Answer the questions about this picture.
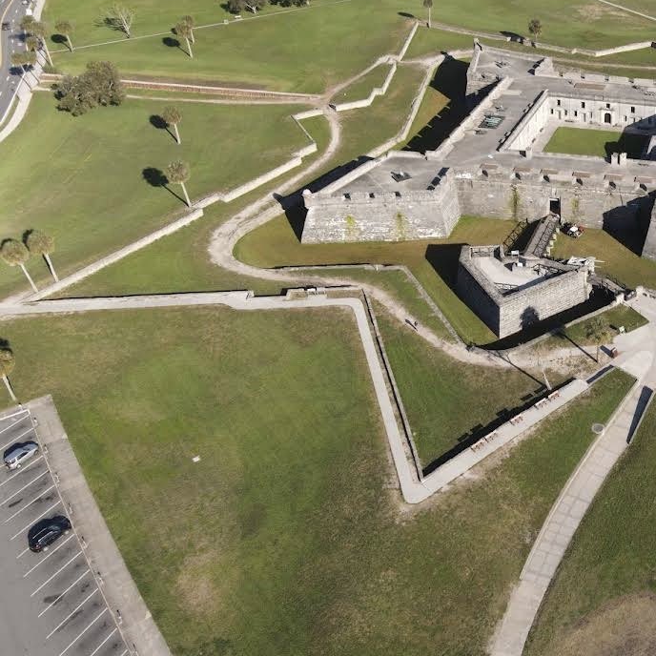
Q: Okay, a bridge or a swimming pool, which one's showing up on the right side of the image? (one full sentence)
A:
There is a bridge on the right side of the image.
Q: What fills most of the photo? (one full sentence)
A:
Most of the picture is covered by grass.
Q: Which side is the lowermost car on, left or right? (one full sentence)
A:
The lowermost car appears in the left half of the scene.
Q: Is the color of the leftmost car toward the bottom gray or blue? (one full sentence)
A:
The leftmost car toward the bottom looks gray in the image.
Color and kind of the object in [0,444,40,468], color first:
gray car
